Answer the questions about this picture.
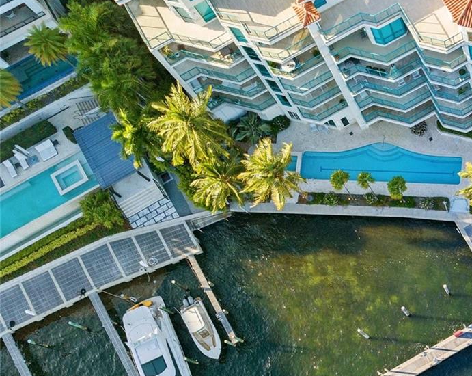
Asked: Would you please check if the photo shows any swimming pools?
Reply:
Yes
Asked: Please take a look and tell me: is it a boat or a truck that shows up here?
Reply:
boat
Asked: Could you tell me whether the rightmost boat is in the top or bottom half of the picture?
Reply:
bottom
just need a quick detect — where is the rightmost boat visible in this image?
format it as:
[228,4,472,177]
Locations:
[179,300,222,359]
